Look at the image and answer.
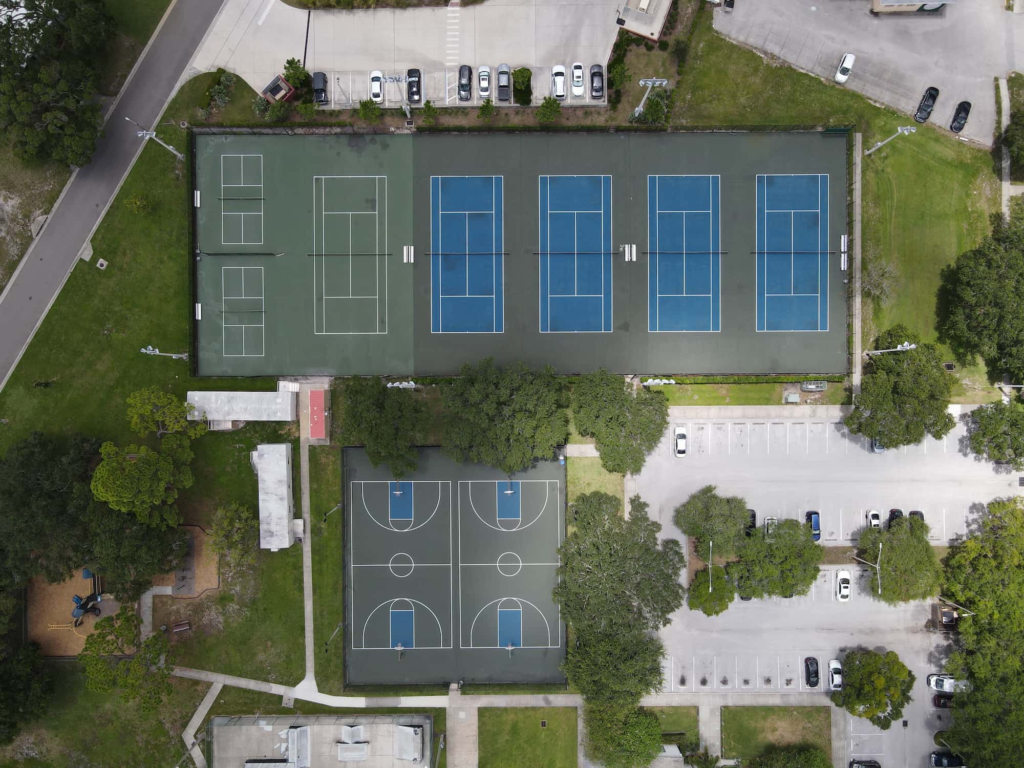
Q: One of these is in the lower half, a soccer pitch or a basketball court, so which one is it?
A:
basketball court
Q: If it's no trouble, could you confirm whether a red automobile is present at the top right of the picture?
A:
No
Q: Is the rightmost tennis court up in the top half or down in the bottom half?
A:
top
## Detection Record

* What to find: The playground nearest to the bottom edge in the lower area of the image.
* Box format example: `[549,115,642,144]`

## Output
[29,567,137,657]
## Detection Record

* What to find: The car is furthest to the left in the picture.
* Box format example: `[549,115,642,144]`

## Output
[313,68,328,105]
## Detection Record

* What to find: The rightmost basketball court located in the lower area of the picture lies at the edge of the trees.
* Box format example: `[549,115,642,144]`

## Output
[459,480,560,648]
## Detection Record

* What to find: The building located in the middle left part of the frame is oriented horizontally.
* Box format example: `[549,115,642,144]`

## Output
[187,380,306,428]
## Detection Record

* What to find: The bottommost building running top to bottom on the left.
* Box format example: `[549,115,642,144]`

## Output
[254,444,305,550]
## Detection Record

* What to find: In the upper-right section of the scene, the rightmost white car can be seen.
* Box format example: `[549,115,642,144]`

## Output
[833,50,857,87]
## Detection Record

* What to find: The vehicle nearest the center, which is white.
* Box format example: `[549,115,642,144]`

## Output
[673,426,688,458]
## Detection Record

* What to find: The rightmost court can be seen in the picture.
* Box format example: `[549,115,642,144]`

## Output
[756,174,829,331]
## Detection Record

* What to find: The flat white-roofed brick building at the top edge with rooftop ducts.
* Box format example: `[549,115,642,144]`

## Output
[619,0,673,43]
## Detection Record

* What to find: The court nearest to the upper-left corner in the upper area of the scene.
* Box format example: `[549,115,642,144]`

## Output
[222,155,263,244]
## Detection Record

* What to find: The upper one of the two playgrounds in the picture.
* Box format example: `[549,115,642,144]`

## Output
[152,526,219,599]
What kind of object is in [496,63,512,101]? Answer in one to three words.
vehicle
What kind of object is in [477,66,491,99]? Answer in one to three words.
car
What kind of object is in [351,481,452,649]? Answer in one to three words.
basketball court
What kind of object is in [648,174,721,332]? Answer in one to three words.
tennis court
